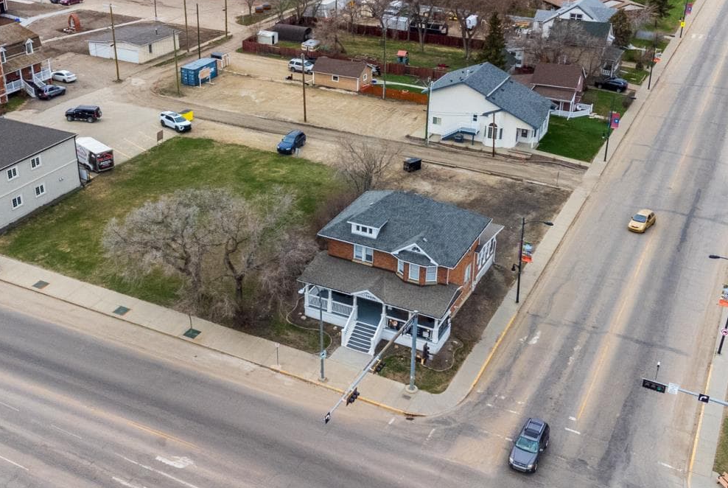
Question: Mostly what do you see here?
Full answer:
The scene is dominated by paved ground.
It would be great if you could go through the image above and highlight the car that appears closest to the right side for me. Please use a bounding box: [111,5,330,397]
[628,203,661,231]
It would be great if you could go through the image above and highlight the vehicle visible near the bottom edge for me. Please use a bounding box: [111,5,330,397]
[510,409,559,472]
